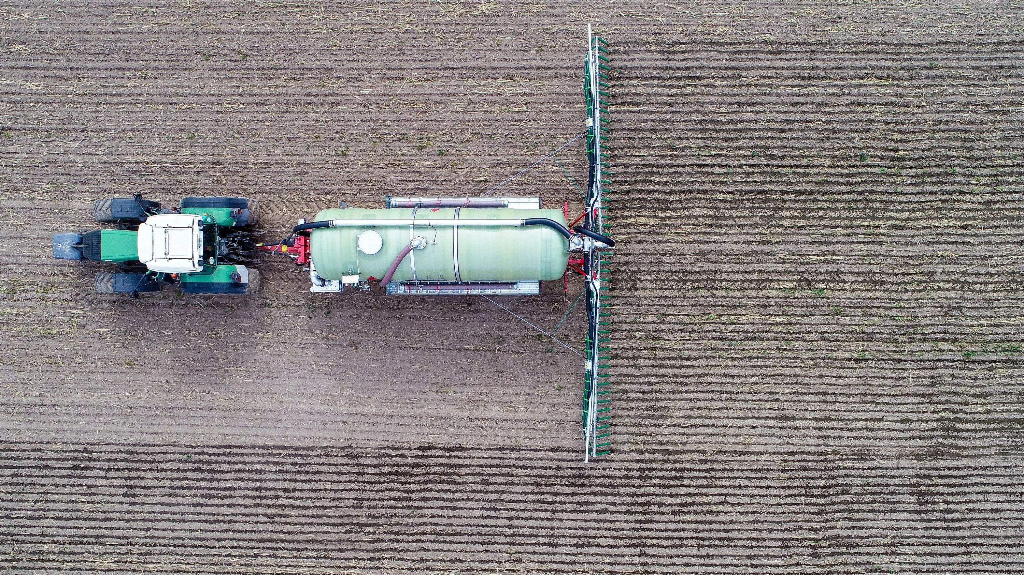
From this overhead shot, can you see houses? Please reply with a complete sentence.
No, I can see no house in this picture.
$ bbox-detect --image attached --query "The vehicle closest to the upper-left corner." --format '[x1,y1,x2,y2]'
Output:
[54,191,267,299]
